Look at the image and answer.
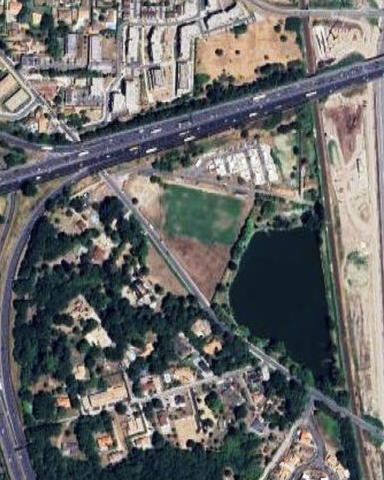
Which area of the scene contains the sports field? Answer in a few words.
center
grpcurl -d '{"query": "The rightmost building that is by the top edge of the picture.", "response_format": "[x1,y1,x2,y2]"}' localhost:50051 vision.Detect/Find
[207,3,253,28]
